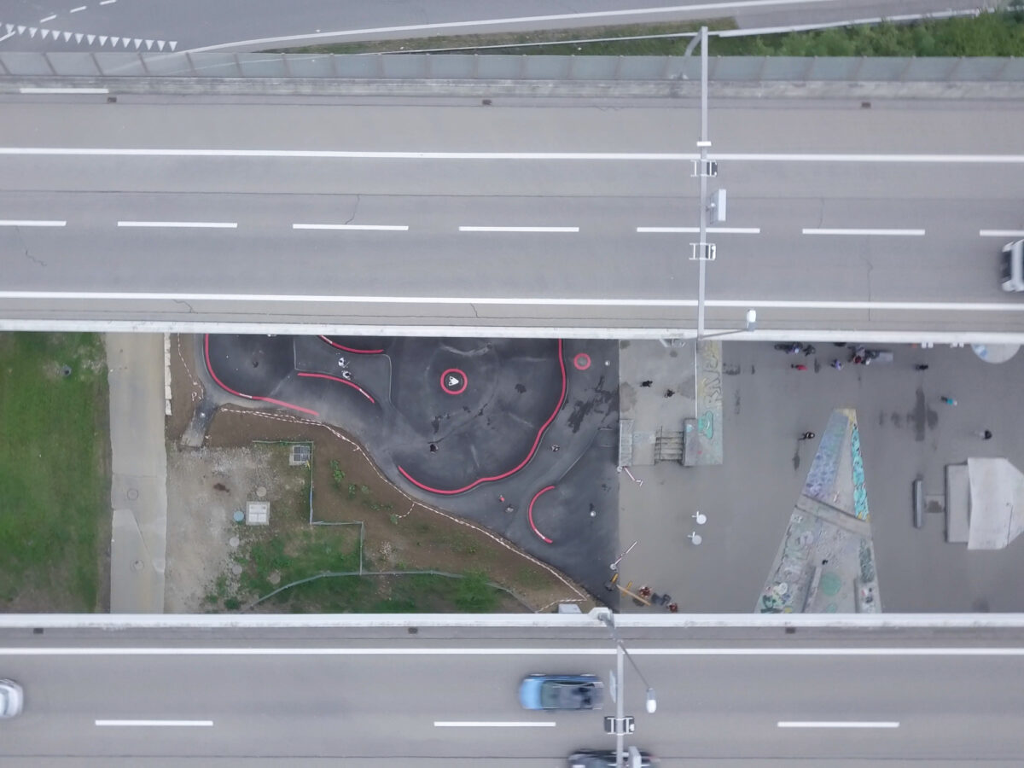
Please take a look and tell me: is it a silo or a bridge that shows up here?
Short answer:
bridge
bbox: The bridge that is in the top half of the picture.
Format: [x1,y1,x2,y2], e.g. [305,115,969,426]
[0,77,1024,343]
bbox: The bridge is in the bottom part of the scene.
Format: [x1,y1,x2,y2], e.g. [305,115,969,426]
[0,613,1024,768]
